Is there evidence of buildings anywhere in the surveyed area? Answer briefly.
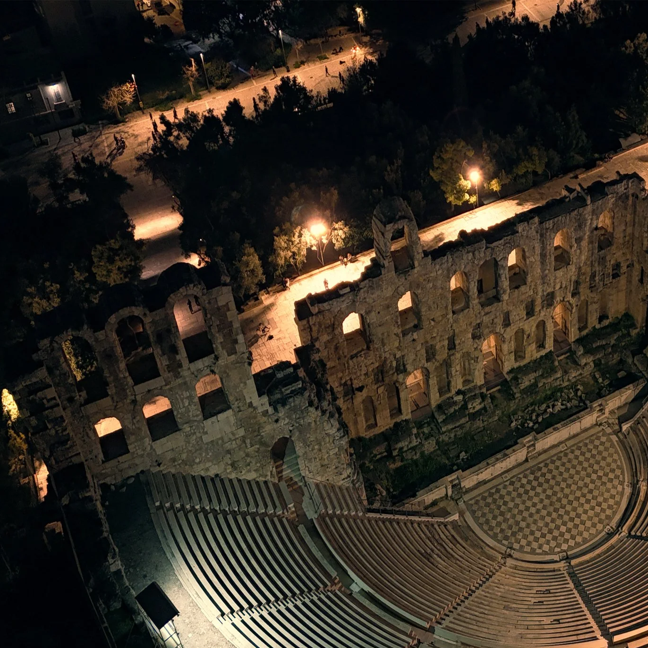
Yes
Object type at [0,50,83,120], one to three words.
house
